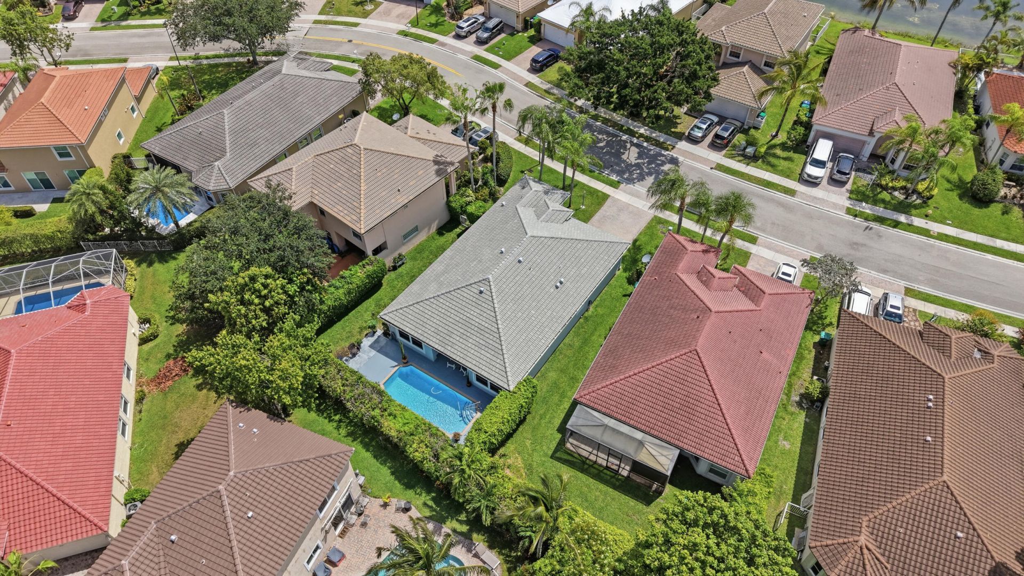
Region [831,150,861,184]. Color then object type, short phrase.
gray car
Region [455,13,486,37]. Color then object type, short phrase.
gray car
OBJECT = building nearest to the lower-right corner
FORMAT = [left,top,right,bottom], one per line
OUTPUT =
[803,306,1024,576]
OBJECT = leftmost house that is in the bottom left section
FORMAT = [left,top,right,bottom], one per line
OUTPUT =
[0,283,138,575]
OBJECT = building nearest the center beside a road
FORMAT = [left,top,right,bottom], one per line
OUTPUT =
[378,171,632,397]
